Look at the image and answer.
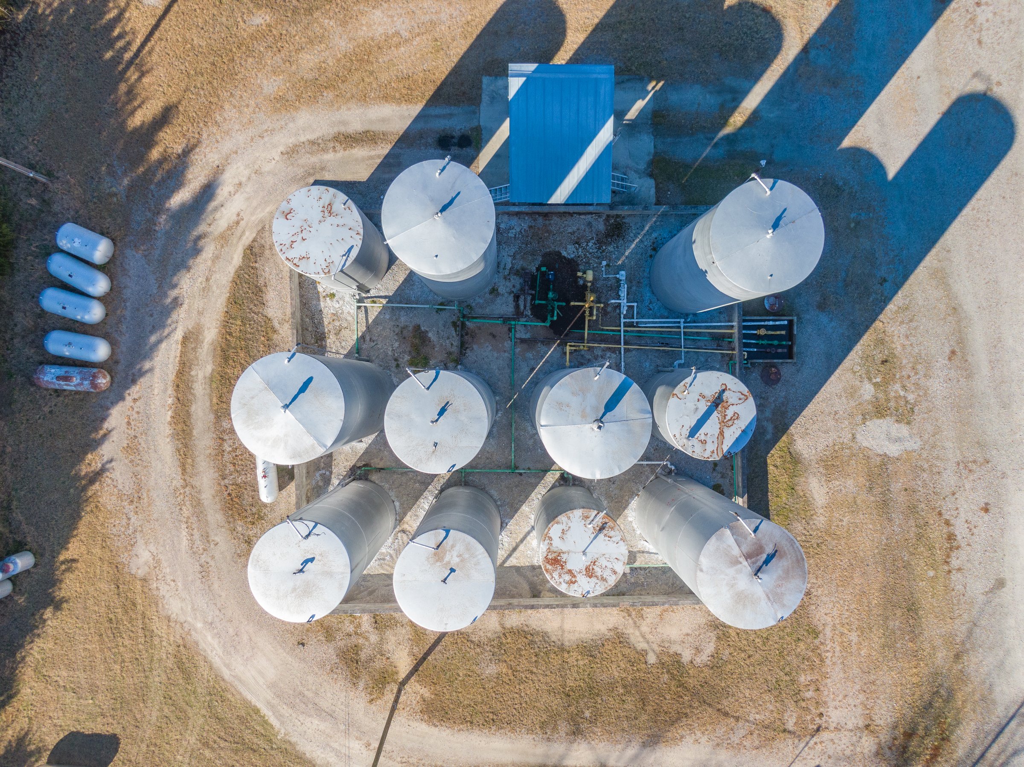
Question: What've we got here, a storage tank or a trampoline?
storage tank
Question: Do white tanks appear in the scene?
Yes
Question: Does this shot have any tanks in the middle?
Yes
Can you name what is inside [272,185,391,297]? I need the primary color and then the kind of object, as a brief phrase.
white storage tank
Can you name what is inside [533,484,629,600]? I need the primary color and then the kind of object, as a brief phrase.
white storage tank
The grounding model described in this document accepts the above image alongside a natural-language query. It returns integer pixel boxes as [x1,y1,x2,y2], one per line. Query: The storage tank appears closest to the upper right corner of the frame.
[649,170,825,317]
